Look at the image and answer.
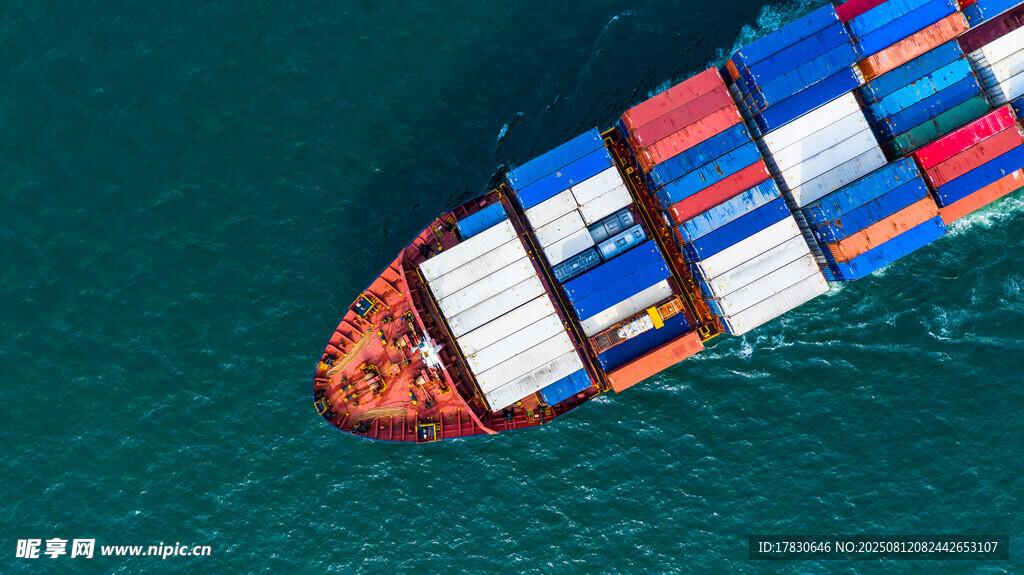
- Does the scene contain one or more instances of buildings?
No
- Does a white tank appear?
No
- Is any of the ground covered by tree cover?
No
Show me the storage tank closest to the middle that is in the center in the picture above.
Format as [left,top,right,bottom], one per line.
[555,248,599,281]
